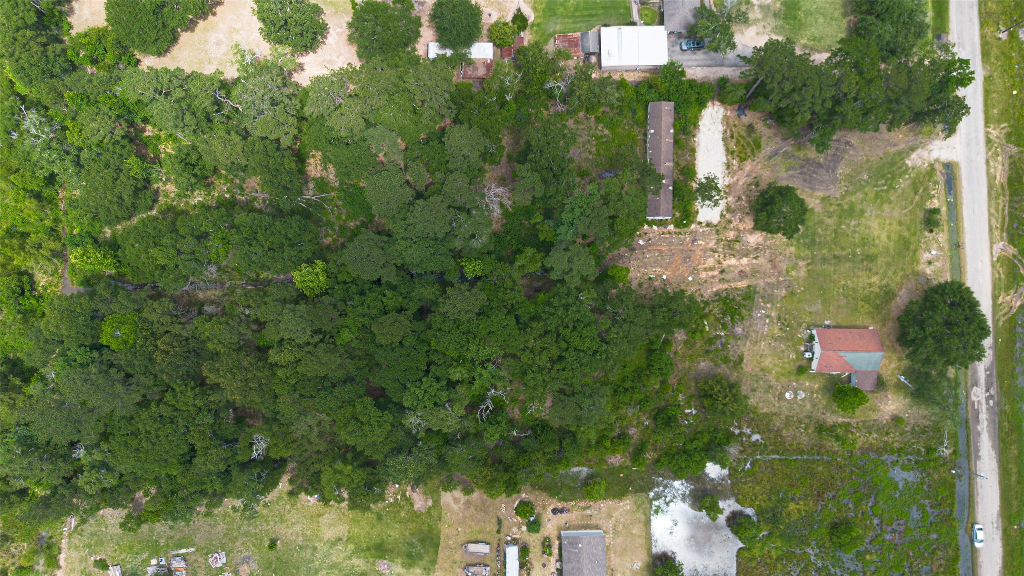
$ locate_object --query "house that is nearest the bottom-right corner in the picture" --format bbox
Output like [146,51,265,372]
[809,329,885,390]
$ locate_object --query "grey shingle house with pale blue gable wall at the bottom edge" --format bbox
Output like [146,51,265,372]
[561,530,608,576]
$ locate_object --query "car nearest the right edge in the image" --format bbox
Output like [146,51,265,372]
[970,522,984,548]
